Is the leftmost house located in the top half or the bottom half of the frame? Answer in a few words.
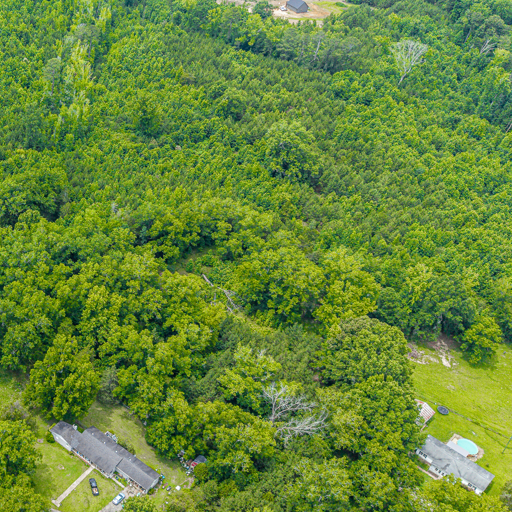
bottom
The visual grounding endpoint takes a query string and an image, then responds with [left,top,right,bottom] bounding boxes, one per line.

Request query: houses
[285,0,310,10]
[50,421,161,495]
[413,428,490,492]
